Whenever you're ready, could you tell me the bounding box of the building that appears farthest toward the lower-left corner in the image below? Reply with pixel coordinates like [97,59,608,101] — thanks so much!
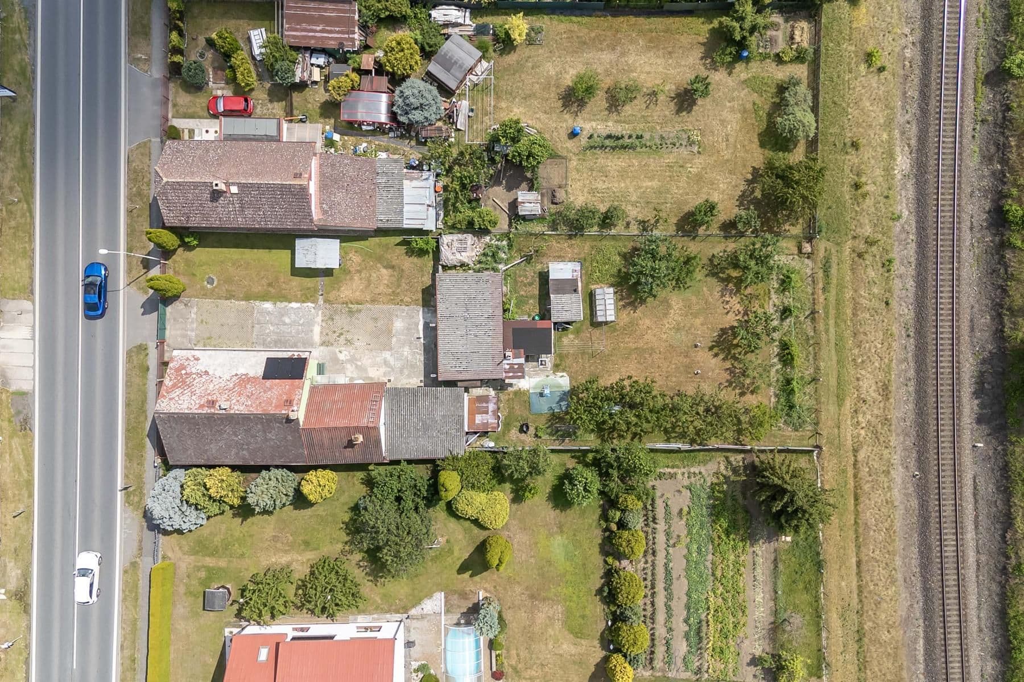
[201,590,227,611]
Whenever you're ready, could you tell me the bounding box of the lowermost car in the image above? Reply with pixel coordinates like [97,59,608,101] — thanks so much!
[73,550,103,604]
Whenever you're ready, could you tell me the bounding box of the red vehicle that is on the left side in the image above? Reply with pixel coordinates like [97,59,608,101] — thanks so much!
[209,92,255,117]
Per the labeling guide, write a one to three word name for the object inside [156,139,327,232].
house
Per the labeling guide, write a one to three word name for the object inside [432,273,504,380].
building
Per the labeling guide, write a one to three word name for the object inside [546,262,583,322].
shed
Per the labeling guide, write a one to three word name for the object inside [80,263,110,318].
car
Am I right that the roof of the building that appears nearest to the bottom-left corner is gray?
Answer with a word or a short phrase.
Yes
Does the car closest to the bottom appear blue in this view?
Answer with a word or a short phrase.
No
